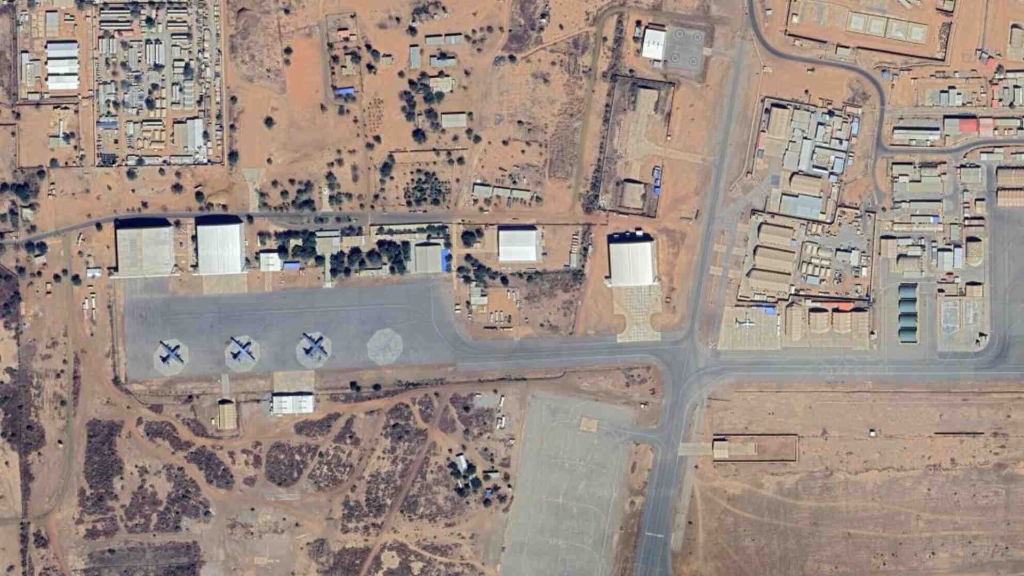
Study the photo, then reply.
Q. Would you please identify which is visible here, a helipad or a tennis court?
helipad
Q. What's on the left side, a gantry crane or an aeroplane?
aeroplane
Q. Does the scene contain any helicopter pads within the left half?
No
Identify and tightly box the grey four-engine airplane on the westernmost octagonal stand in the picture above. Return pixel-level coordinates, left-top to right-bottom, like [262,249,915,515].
[162,343,185,366]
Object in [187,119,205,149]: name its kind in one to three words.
building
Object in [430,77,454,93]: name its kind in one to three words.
house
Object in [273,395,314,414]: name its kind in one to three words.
hangar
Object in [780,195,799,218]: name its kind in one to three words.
building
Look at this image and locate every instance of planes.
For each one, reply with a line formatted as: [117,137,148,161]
[162,343,185,366]
[738,316,755,333]
[304,335,327,358]
[232,340,256,363]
